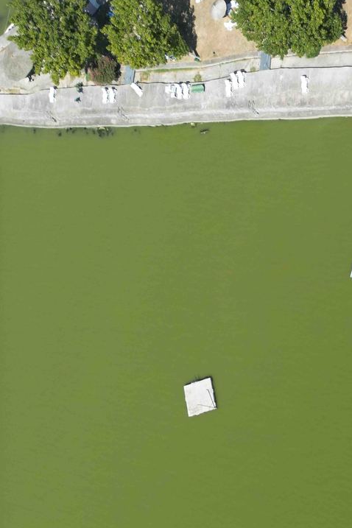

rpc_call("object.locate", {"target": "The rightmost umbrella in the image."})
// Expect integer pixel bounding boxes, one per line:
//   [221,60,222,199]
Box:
[212,0,231,23]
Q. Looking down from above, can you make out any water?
Yes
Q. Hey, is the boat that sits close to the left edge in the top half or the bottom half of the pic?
top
